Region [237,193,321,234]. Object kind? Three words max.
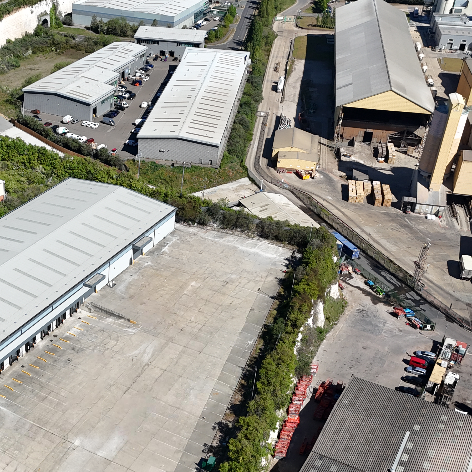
shed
